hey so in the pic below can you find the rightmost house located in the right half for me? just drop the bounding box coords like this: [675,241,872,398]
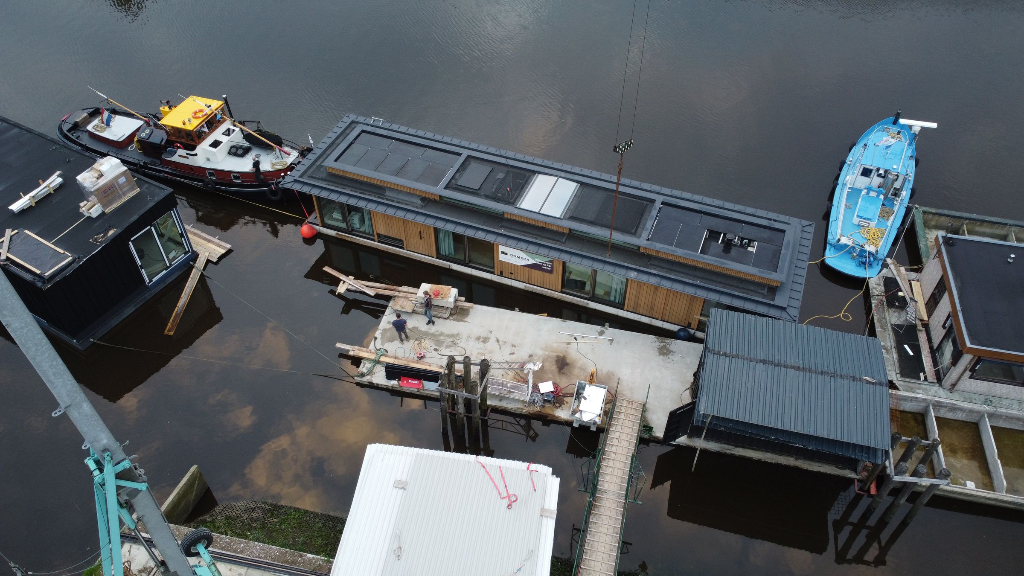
[918,232,1024,393]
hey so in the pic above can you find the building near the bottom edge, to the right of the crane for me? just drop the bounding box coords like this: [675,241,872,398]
[328,443,564,576]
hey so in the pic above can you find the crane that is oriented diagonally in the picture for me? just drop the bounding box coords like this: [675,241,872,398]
[0,293,195,576]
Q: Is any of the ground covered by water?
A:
Yes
